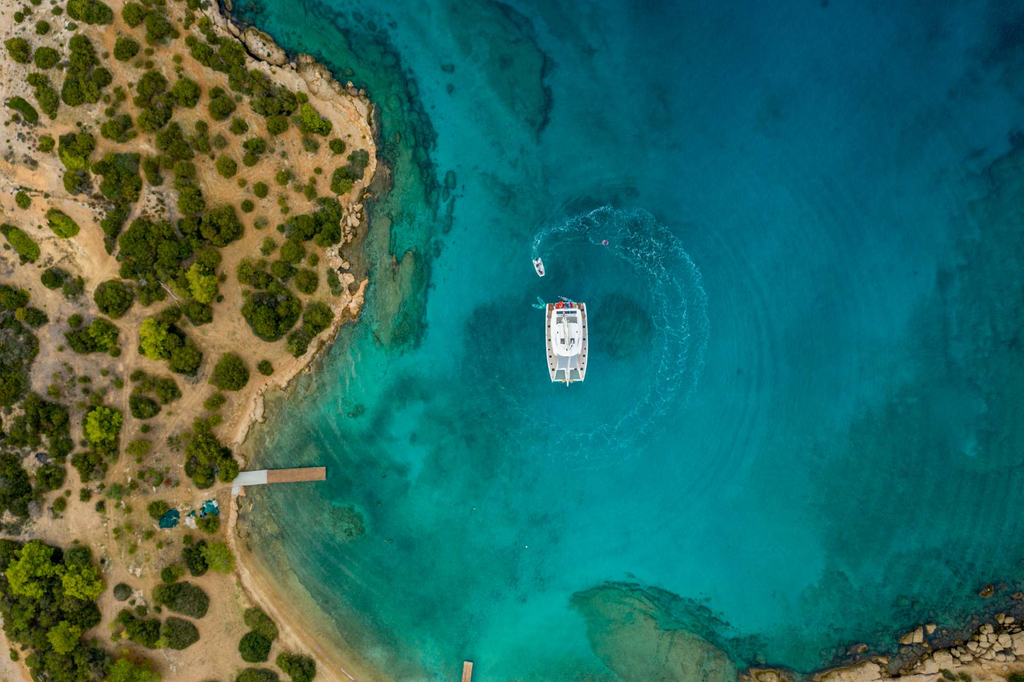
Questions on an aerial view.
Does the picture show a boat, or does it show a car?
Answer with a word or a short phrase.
boat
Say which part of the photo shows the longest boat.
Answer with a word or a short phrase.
center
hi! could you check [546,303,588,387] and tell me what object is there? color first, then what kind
white boat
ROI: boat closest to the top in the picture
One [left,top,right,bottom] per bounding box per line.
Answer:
[533,258,545,277]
